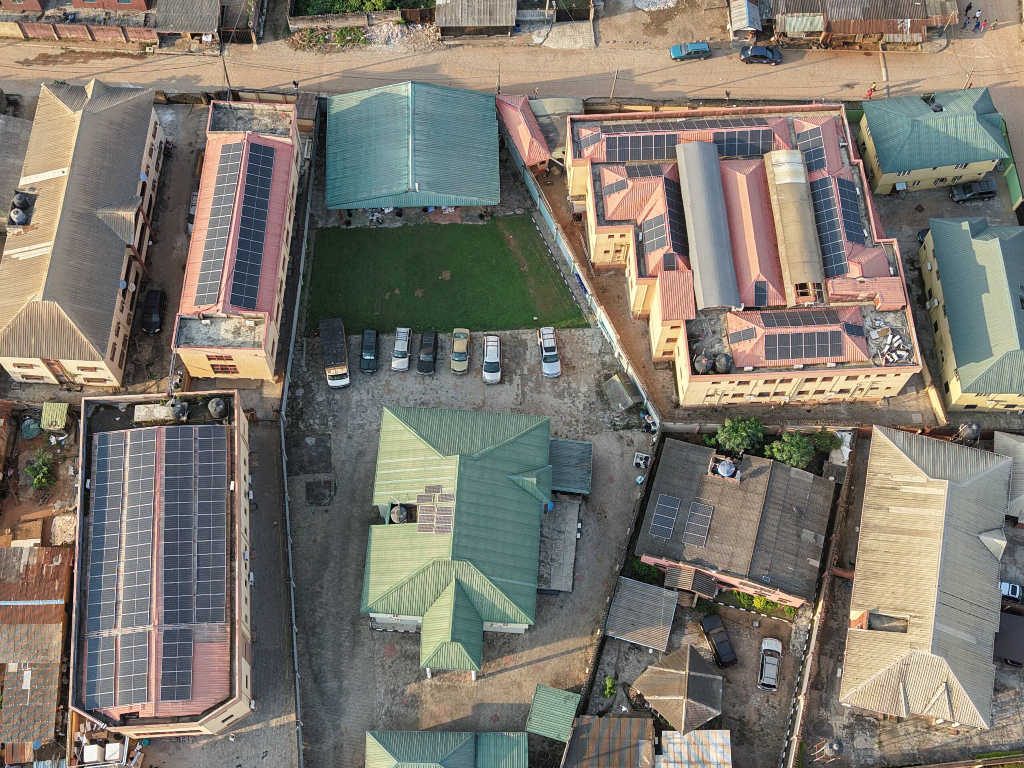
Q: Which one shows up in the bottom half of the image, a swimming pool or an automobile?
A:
automobile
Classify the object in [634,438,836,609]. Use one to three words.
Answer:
house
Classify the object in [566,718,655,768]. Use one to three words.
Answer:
shed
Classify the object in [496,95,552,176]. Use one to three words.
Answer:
building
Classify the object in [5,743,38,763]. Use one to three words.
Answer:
shed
